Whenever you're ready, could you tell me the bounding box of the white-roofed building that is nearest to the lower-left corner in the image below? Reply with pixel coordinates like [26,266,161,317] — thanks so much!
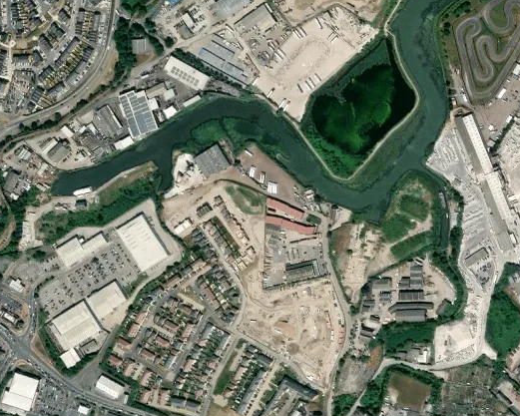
[1,372,40,412]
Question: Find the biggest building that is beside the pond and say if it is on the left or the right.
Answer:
right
